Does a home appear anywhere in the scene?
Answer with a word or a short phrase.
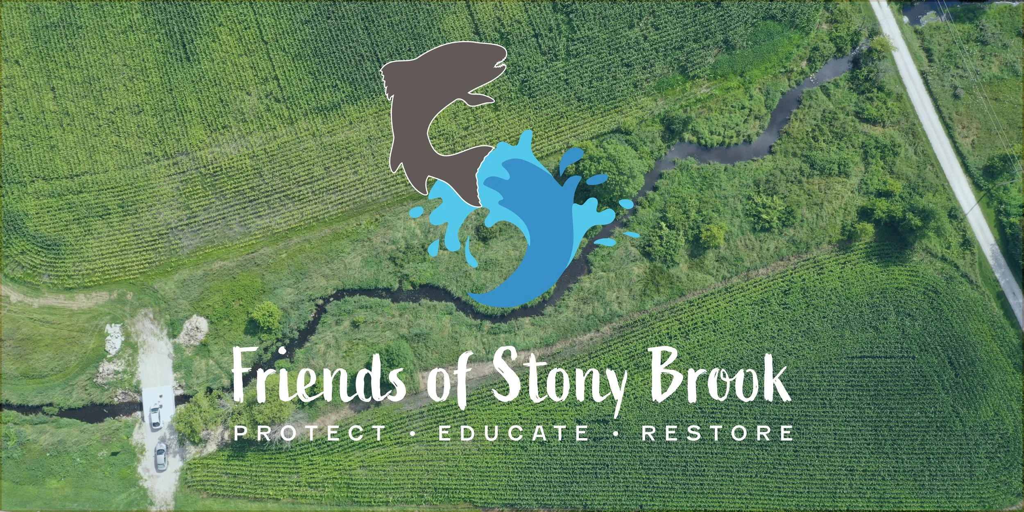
No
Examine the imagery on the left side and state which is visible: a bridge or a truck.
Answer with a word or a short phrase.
bridge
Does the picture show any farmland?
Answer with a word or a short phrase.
Yes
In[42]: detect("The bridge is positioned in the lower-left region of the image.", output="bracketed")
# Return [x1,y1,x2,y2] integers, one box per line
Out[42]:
[139,385,181,424]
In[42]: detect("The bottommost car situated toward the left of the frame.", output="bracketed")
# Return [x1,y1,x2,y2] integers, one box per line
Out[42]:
[154,442,168,471]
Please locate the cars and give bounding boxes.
[154,442,168,471]
[148,404,163,431]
